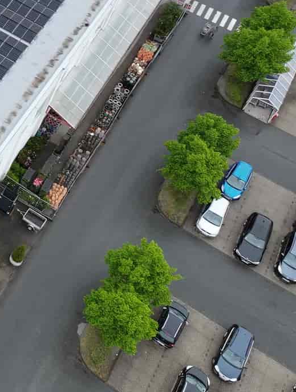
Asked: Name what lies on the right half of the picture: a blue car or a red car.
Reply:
blue car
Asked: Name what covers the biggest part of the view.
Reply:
paved ground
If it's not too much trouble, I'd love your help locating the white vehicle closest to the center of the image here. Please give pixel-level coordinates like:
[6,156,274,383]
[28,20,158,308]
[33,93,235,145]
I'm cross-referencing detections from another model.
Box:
[194,193,233,241]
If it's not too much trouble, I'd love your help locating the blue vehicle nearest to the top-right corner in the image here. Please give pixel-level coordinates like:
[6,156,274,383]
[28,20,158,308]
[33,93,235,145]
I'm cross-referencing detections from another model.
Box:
[220,160,256,203]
